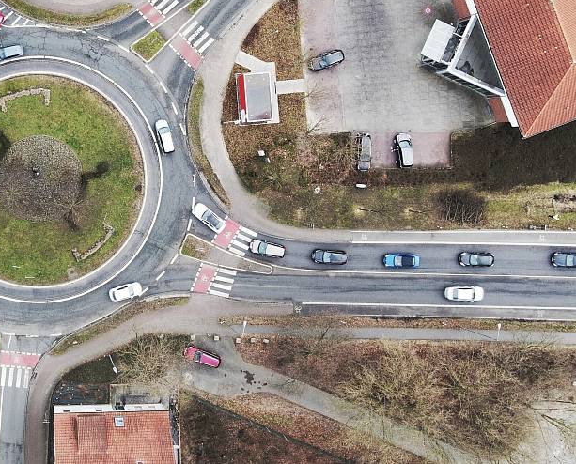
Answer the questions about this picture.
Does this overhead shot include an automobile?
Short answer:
Yes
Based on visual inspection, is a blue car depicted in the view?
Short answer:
Yes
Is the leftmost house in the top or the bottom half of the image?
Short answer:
bottom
